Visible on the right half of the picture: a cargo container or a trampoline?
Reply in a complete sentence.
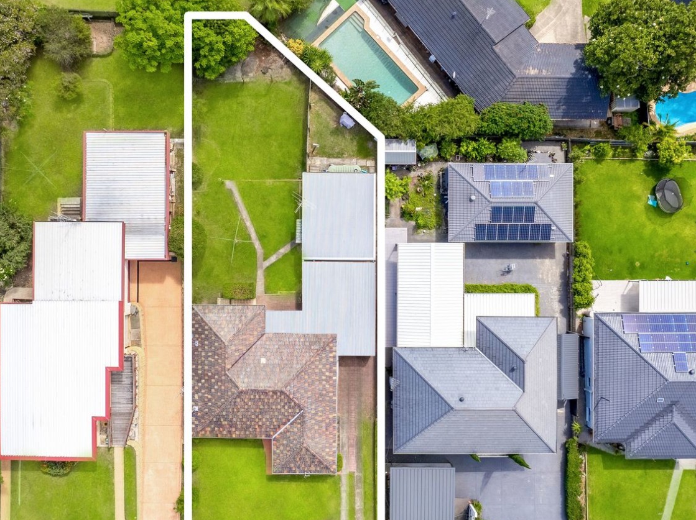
Visible on the right half of the picture is a trampoline.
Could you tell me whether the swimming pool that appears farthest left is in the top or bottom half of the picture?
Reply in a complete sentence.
You can find the swimming pool that appears farthest left in the top half.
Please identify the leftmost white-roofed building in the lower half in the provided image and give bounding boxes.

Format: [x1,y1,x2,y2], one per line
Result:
[0,221,132,460]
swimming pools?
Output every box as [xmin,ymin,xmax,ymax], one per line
[315,6,427,123]
[650,85,696,134]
